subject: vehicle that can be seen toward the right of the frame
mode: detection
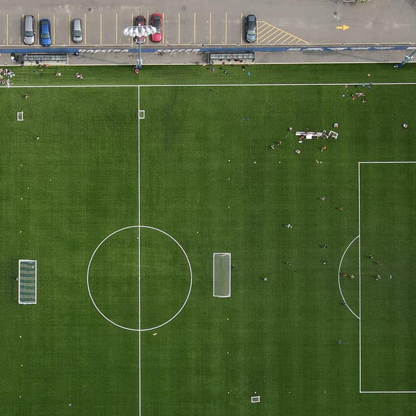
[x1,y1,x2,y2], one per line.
[244,16,256,43]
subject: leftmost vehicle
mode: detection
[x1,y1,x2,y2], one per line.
[22,16,36,46]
